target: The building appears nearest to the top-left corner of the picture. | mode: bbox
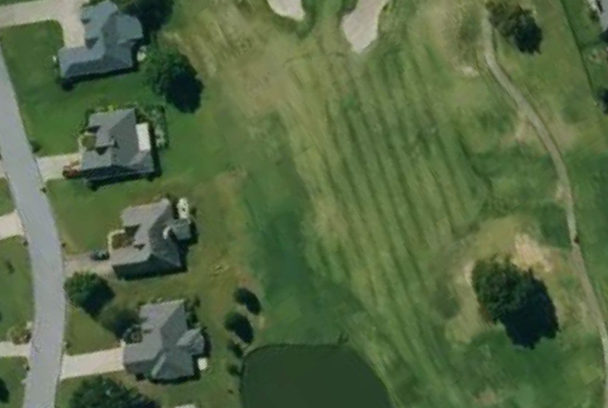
[57,0,144,83]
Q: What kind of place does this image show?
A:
golf course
